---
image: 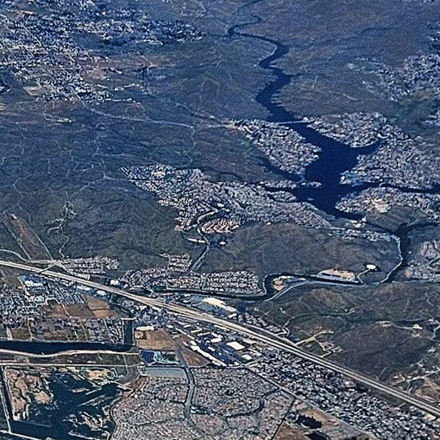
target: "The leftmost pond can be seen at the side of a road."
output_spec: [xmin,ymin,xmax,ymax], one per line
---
[14,374,135,437]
